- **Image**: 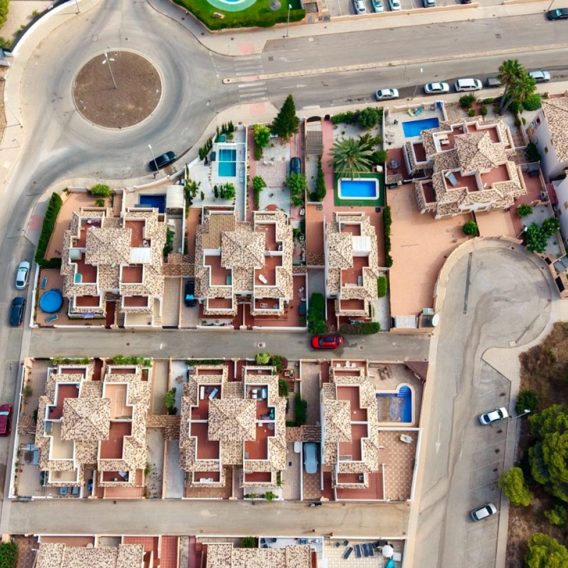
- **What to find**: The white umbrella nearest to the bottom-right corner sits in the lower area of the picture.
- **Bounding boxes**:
[381,544,393,558]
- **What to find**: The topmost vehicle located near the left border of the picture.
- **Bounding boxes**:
[15,263,30,288]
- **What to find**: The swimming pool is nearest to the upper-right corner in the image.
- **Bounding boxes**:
[401,117,440,138]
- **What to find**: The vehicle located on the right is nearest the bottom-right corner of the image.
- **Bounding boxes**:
[469,503,497,523]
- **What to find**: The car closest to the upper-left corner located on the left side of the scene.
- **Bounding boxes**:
[149,152,176,173]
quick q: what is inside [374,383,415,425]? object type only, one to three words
swimming pool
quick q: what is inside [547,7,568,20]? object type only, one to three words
vehicle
